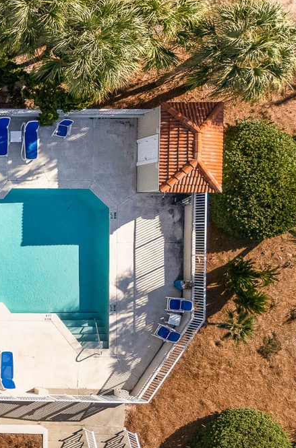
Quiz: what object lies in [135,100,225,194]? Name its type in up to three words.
shed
